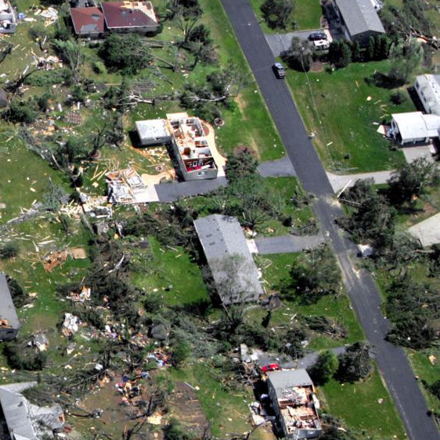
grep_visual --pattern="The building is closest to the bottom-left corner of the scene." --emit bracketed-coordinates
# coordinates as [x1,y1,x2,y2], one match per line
[0,382,81,440]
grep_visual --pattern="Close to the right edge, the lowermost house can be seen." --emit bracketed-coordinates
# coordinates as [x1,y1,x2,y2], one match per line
[390,112,440,147]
